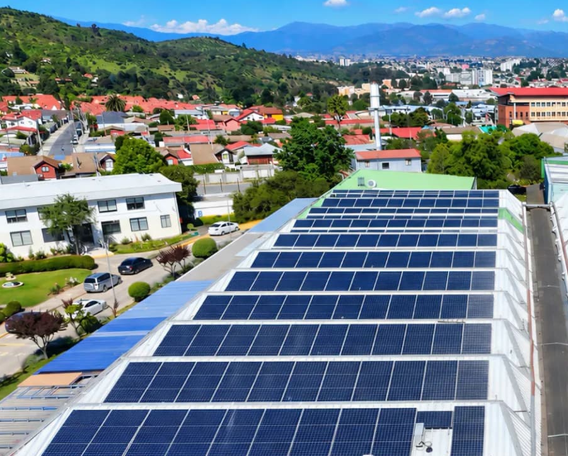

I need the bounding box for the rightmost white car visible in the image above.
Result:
[208,221,237,234]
